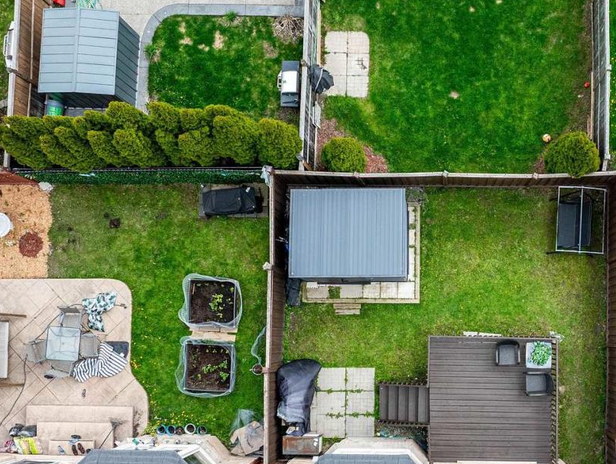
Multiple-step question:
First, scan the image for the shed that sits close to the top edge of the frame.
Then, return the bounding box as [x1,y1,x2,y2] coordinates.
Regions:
[39,4,140,109]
